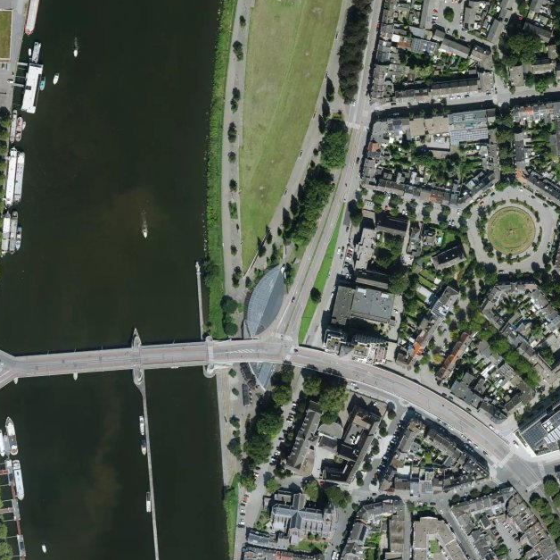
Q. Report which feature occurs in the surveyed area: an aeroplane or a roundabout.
roundabout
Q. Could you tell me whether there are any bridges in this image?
Yes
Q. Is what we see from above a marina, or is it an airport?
marina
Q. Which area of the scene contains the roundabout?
right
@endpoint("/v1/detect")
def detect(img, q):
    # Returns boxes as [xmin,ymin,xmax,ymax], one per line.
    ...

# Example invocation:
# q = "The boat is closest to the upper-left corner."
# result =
[26,0,38,35]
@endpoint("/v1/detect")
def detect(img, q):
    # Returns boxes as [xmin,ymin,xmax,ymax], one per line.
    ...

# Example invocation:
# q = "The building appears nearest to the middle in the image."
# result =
[247,265,284,336]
